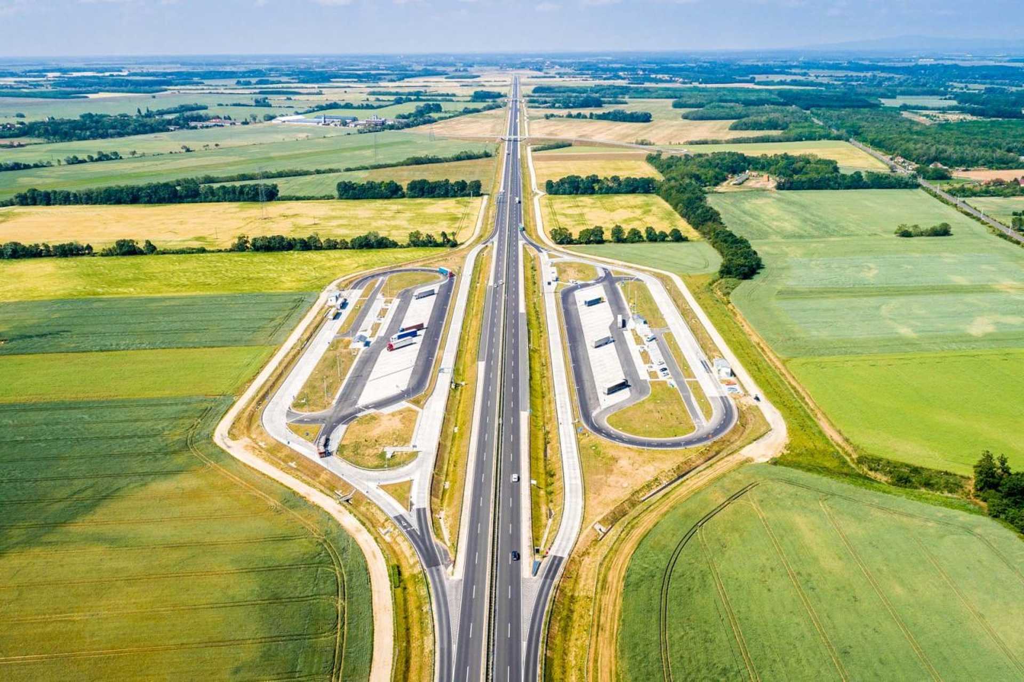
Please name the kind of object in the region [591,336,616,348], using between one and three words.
vehicle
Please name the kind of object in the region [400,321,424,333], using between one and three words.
vehicle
